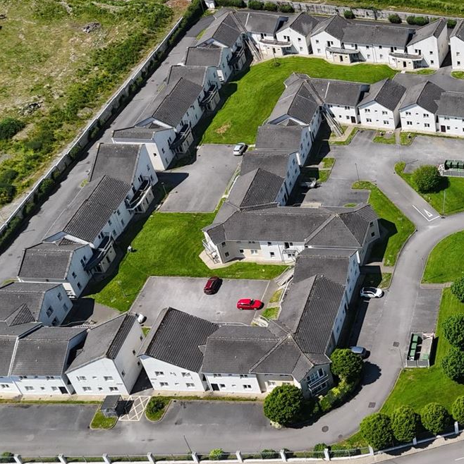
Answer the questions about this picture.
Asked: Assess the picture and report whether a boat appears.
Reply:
No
